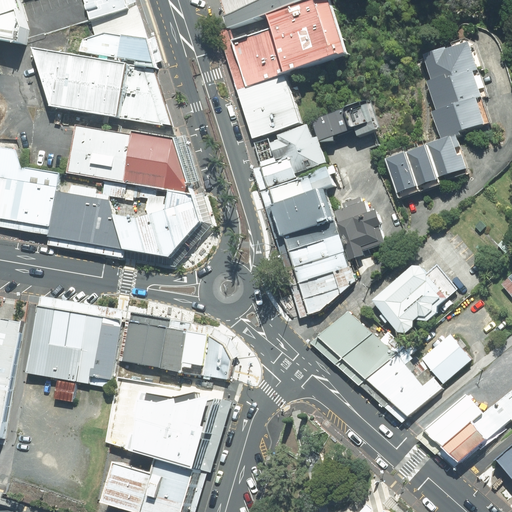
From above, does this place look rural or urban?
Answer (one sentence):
The area shown here is urban.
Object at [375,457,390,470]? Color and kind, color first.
white vehicle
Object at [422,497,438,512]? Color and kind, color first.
white car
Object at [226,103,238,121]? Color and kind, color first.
white vehicle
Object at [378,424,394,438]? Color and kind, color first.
white car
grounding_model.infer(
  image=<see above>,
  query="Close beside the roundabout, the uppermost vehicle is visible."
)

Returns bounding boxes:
[197,265,214,277]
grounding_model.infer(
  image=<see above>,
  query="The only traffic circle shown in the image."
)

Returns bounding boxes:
[213,273,244,304]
